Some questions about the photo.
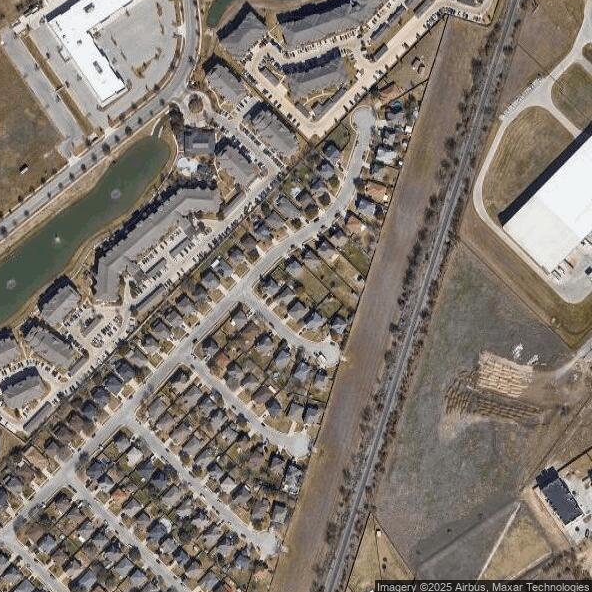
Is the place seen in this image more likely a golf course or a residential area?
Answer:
residential area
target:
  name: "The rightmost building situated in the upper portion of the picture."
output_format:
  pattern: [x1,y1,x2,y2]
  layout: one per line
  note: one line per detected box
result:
[503,142,592,274]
